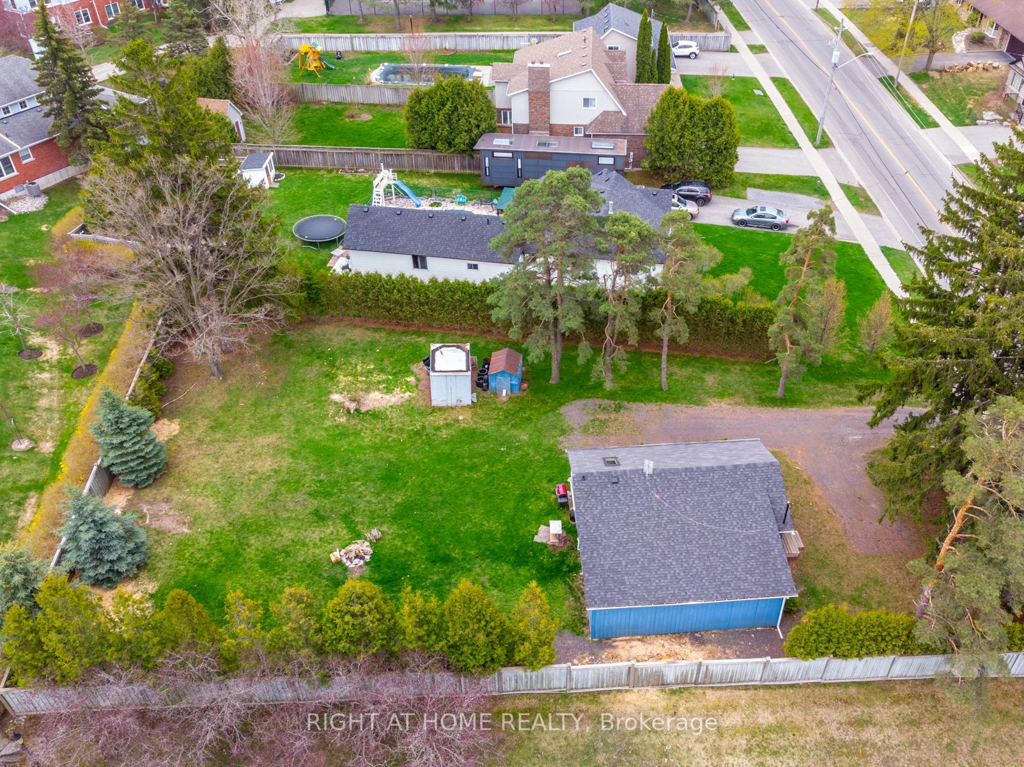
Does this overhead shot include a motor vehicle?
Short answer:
Yes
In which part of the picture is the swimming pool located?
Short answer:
top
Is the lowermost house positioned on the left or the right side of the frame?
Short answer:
right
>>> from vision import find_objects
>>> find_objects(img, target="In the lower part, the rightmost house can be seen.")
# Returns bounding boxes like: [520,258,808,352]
[568,440,801,639]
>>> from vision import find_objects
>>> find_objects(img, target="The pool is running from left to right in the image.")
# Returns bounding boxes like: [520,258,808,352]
[366,64,504,84]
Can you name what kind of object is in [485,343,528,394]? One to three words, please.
shed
